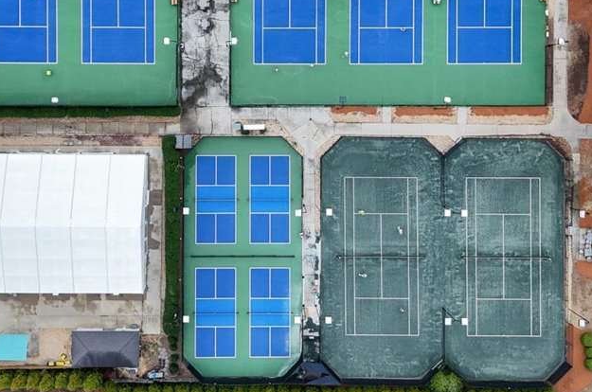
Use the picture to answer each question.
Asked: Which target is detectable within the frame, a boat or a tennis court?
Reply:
tennis court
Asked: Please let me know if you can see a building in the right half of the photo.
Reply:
No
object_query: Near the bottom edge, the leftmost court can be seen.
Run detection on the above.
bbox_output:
[184,257,242,379]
